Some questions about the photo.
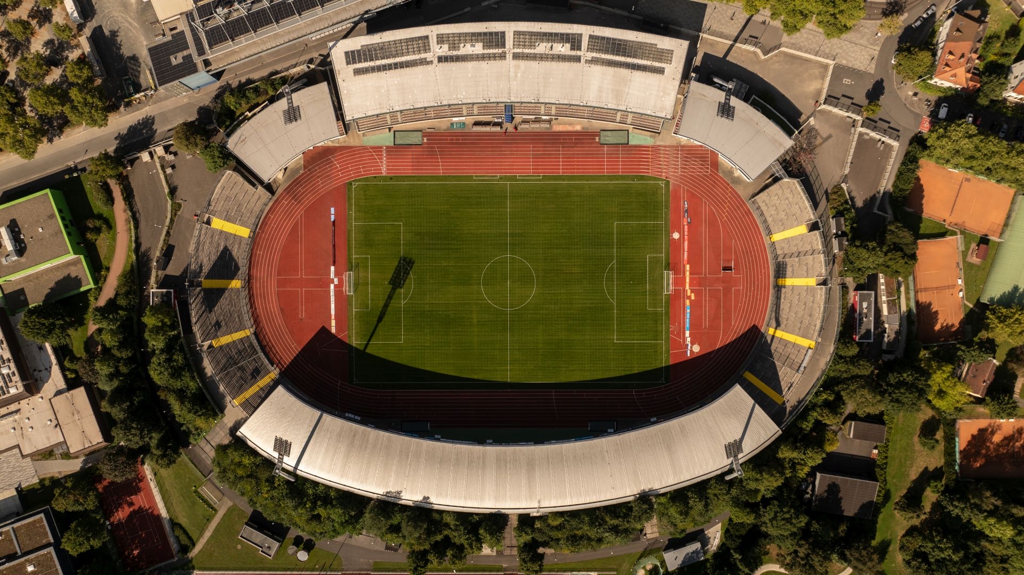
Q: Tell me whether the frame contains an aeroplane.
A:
No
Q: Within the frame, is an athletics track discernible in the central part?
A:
Yes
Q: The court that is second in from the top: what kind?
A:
tennis court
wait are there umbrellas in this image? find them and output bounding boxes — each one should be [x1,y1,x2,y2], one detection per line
[288,546,298,555]
[297,551,308,561]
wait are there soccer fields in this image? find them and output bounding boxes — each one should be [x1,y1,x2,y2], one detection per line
[348,175,670,389]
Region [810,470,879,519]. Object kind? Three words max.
shed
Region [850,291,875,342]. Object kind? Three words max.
building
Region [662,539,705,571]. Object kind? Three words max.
shed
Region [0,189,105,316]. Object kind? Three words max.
building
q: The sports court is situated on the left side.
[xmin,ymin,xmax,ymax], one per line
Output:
[98,462,180,575]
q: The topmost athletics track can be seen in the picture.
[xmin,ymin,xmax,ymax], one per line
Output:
[246,131,771,440]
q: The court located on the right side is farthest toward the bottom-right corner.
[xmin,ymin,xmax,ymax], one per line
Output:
[957,419,1024,478]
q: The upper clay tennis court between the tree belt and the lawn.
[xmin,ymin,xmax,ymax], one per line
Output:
[910,160,1015,235]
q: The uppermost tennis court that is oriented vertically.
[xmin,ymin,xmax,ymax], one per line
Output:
[915,237,964,344]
